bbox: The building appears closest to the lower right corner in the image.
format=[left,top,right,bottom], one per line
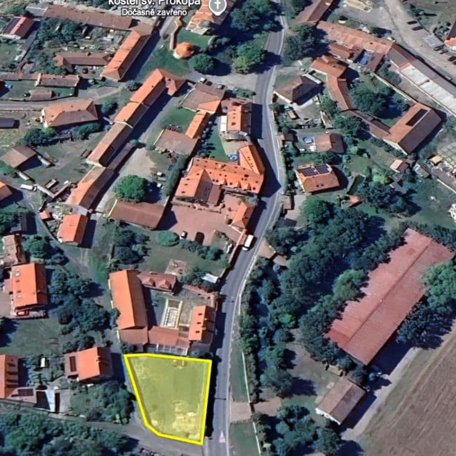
[322,378,367,425]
